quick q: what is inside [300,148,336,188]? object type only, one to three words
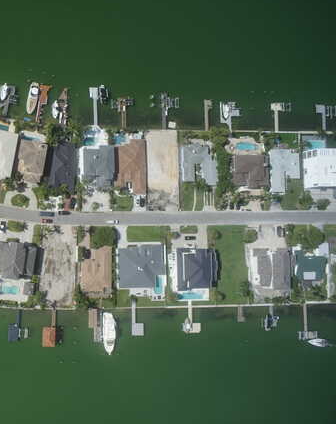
house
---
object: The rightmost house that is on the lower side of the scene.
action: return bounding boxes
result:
[294,250,327,289]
